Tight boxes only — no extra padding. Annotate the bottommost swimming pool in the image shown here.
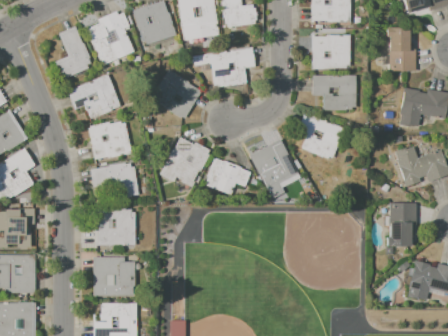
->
[380,277,400,302]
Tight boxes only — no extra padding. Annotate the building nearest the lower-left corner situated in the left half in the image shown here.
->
[0,302,36,336]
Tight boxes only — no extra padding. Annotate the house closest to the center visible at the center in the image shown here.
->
[208,158,251,195]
